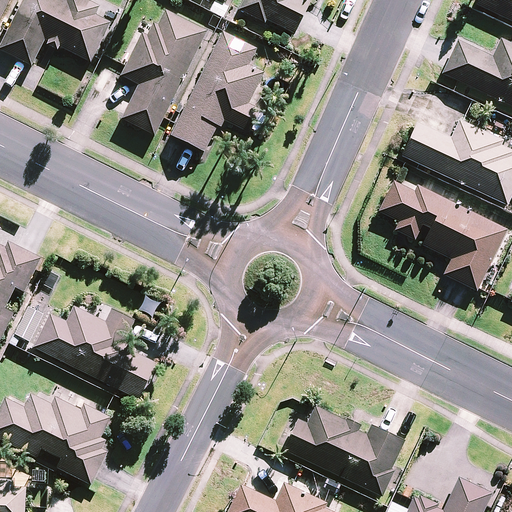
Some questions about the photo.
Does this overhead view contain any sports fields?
No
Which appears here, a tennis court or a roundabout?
roundabout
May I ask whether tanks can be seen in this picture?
No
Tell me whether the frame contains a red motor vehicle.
No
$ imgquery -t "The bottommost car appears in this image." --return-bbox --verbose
[258,470,278,494]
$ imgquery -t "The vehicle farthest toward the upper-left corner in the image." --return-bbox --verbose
[4,62,24,88]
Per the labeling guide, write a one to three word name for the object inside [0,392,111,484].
house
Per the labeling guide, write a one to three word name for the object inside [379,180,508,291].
house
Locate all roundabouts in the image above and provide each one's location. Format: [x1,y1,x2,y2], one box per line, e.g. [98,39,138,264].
[174,186,370,372]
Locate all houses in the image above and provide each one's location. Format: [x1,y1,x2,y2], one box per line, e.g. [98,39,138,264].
[30,306,158,398]
[0,0,110,64]
[404,476,493,512]
[442,38,512,104]
[284,405,405,495]
[119,8,208,136]
[240,0,310,36]
[401,120,512,205]
[0,486,26,512]
[379,180,508,291]
[170,30,264,152]
[0,240,43,344]
[0,392,111,484]
[228,482,328,512]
